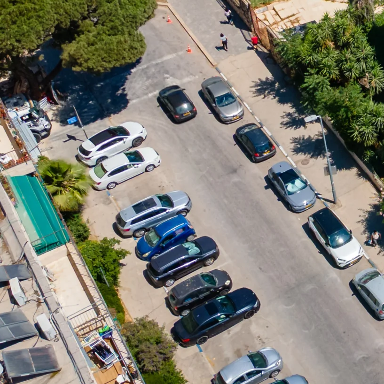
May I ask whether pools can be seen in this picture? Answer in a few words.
No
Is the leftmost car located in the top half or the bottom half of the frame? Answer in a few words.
top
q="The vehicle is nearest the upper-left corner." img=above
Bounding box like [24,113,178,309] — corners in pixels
[8,93,54,141]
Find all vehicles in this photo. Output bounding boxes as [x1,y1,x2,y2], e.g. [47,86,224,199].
[136,233,223,290]
[304,207,363,269]
[346,265,384,325]
[106,186,194,241]
[130,209,198,256]
[203,344,285,384]
[154,83,196,126]
[66,119,147,167]
[196,75,245,123]
[233,122,276,164]
[166,285,260,350]
[161,267,233,317]
[263,157,318,214]
[8,93,54,141]
[254,366,315,384]
[85,142,162,191]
